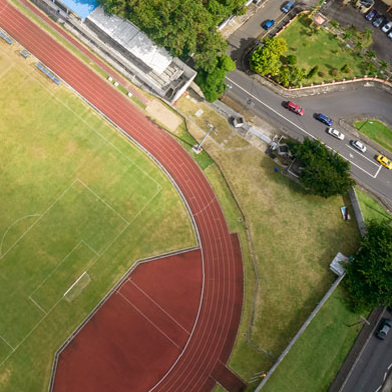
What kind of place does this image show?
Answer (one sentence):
The picture captures a sports ground.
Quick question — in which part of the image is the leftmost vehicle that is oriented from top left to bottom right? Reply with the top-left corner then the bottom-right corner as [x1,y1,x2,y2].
[286,100,304,115]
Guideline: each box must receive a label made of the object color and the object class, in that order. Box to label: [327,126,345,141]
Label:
white car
